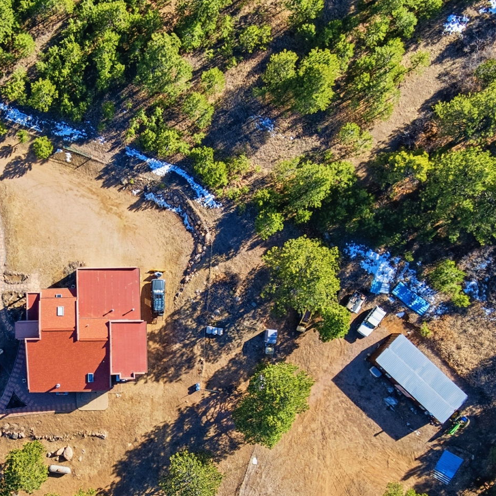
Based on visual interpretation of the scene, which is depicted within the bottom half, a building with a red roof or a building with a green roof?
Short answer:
building with a red roof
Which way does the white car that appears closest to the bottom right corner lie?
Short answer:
on a diagonal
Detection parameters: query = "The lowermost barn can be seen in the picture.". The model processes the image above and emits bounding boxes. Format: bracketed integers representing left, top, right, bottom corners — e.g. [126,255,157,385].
[370,331,468,424]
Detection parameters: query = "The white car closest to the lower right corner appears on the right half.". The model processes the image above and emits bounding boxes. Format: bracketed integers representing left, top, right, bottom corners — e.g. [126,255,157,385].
[358,306,389,338]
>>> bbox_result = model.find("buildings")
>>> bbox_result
[16,266,146,394]
[370,331,468,424]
